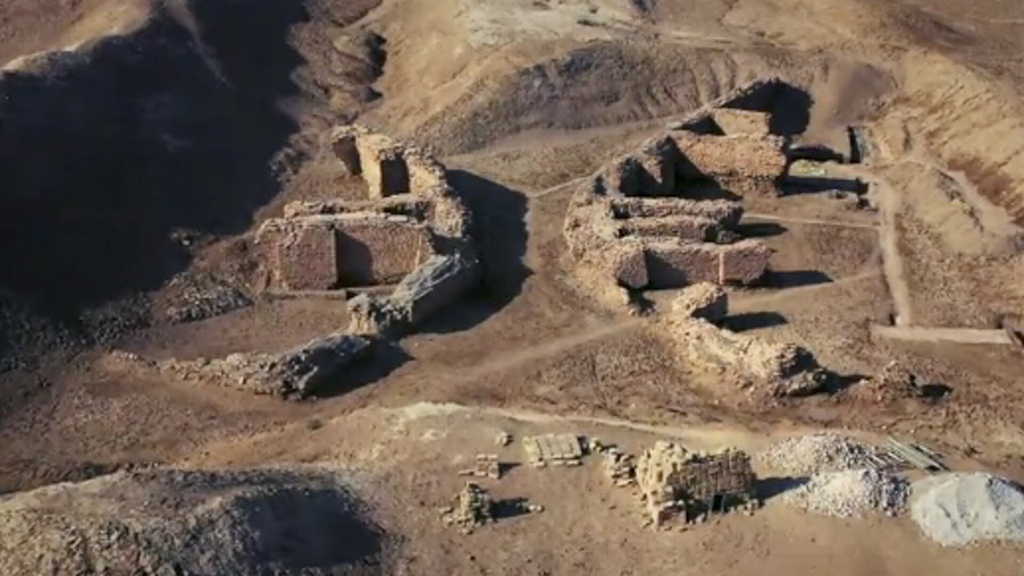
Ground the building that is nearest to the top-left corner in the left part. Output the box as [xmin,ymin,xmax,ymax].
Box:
[253,124,497,335]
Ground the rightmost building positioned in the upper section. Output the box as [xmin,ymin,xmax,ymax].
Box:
[517,79,787,330]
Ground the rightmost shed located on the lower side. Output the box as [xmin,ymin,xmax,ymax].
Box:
[680,448,764,513]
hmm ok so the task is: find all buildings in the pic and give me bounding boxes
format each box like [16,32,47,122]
[517,79,787,330]
[680,448,764,513]
[253,124,497,335]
